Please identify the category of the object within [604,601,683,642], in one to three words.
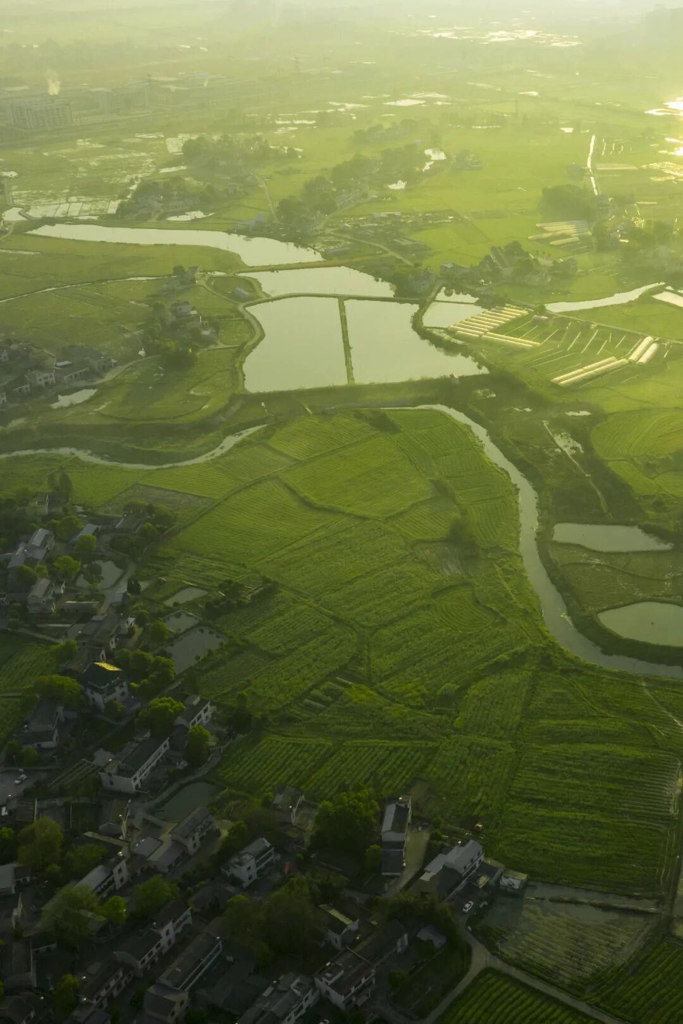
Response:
pond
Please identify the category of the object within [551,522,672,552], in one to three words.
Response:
pond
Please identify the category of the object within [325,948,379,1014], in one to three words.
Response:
house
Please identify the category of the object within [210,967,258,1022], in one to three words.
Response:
barn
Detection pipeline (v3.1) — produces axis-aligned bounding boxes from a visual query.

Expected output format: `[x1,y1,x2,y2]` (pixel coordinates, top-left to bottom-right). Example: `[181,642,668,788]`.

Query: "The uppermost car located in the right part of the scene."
[460,896,477,916]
